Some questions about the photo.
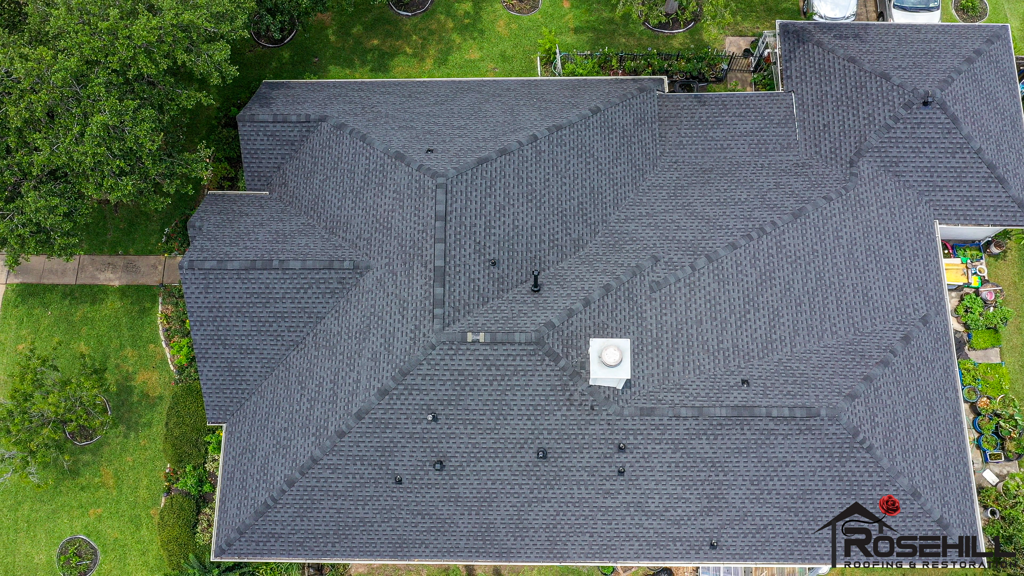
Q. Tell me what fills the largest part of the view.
buildings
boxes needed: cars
[881,0,943,22]
[799,0,856,21]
